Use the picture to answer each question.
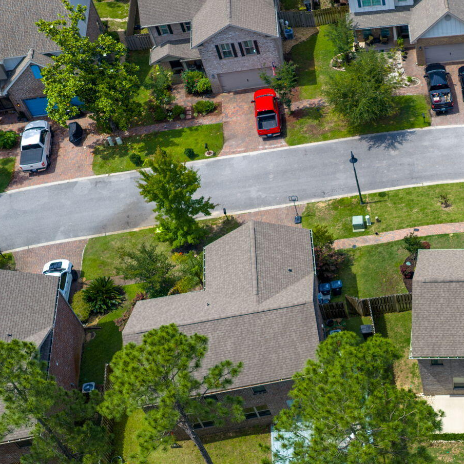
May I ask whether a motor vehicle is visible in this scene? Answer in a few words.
Yes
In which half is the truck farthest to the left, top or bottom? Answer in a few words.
top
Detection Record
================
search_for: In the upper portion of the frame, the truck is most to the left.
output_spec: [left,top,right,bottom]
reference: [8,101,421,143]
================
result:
[20,120,57,172]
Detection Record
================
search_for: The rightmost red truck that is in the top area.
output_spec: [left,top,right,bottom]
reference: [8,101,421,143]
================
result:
[252,89,282,138]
